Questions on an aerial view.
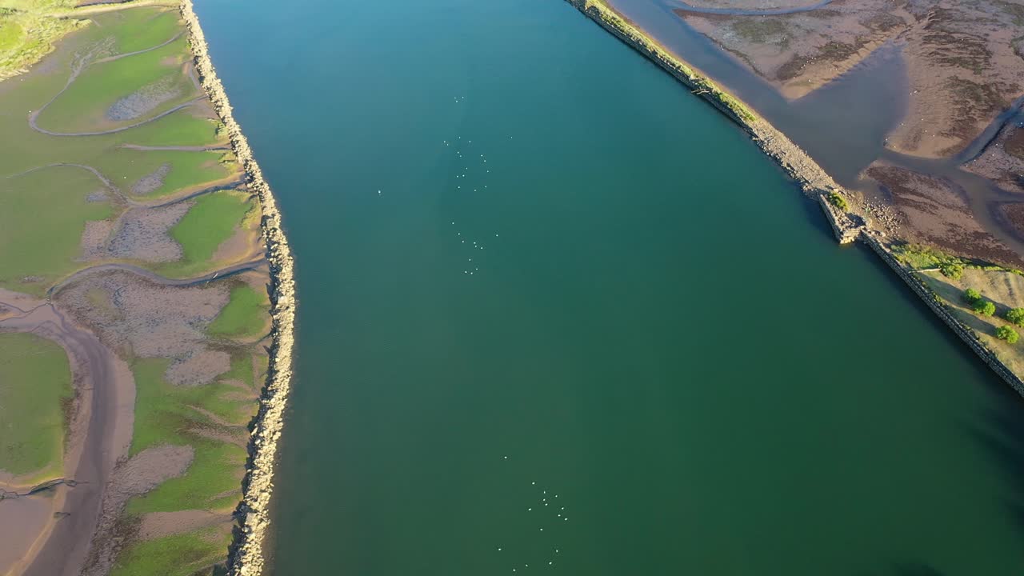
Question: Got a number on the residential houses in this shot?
0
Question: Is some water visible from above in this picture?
Yes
